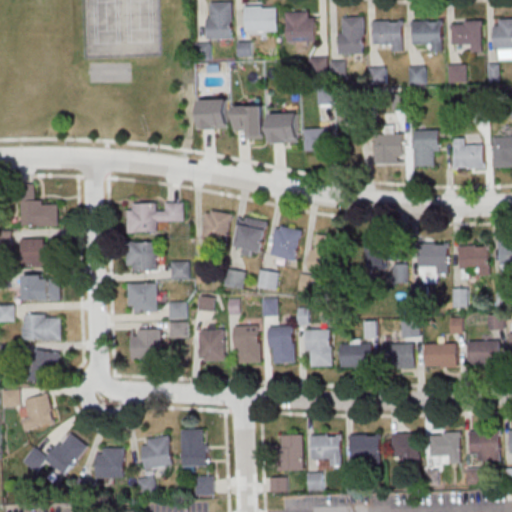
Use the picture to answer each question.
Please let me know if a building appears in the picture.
Yes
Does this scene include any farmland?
No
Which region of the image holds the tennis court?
top left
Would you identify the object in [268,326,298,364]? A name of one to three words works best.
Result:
house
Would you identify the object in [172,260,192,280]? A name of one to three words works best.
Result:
building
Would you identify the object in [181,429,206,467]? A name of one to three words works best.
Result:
house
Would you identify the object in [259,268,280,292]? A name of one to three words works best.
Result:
building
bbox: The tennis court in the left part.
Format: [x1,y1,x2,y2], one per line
[86,0,160,57]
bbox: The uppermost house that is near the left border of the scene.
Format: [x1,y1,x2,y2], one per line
[20,184,58,228]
